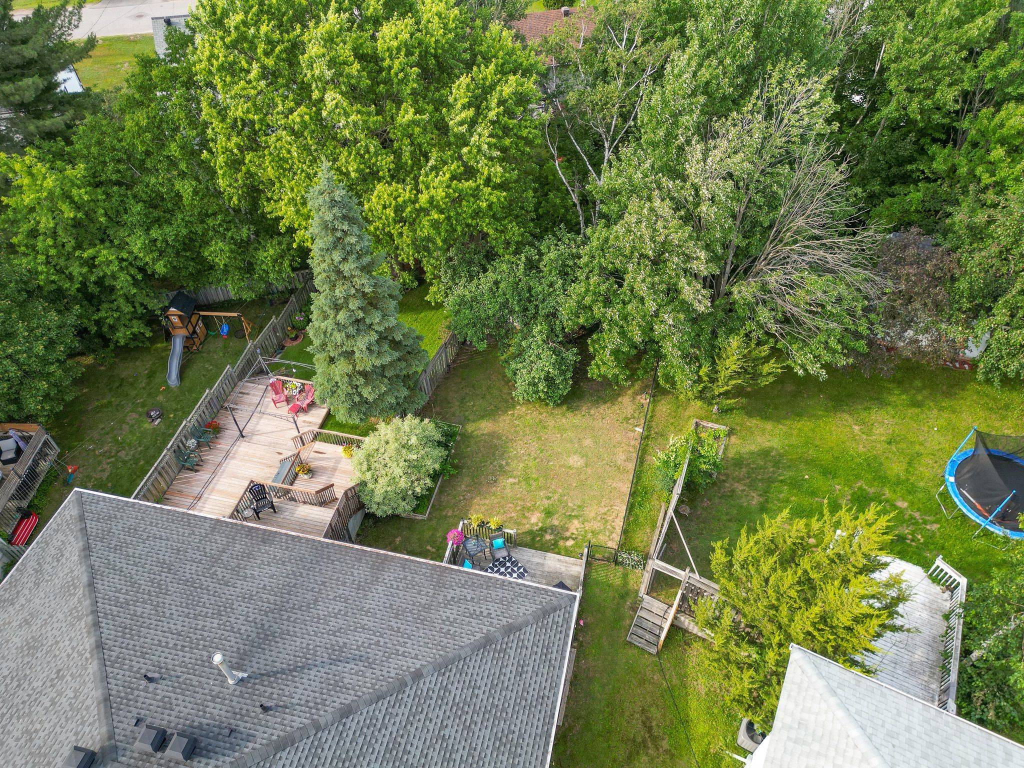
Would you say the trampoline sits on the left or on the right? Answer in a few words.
right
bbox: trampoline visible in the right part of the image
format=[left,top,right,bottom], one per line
[923,426,1024,555]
